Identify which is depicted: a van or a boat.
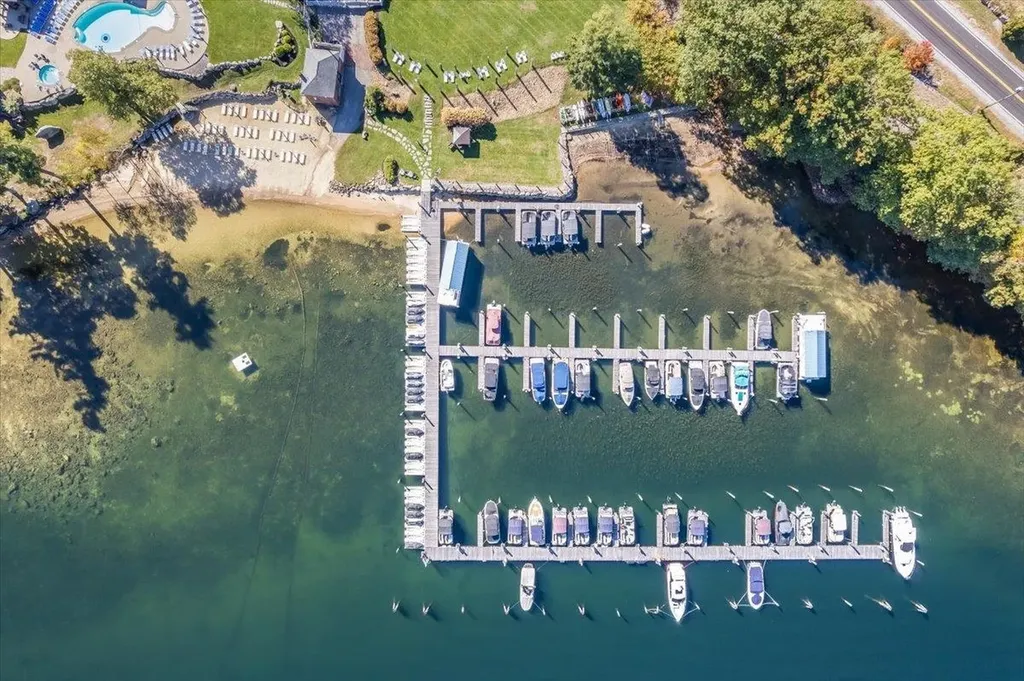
boat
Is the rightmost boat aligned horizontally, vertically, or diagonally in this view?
vertically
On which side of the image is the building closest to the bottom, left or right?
right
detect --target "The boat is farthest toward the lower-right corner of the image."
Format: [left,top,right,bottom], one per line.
[891,503,919,580]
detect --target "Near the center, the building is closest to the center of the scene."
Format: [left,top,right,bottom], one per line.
[437,239,470,308]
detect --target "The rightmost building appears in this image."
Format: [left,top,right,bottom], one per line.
[793,313,826,380]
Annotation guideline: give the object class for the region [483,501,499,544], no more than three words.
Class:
boat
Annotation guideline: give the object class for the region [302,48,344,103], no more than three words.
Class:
house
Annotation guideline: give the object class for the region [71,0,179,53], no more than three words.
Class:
swimming pool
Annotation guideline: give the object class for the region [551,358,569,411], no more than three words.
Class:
boat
